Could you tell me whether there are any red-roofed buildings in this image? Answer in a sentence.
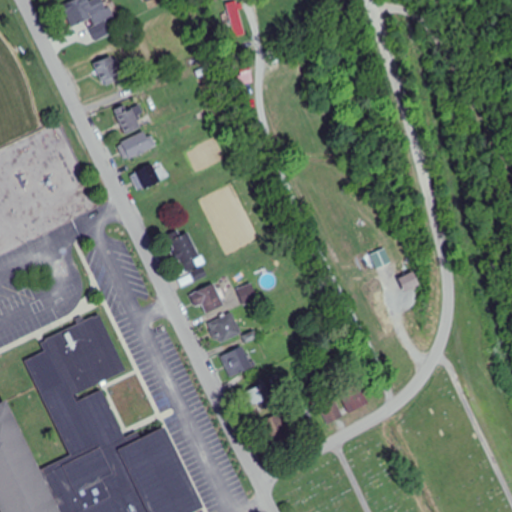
Yes, this view includes a red-roofed building.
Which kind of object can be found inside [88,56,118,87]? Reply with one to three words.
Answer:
house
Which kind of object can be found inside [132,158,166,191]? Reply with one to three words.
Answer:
house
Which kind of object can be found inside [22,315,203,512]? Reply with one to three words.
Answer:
building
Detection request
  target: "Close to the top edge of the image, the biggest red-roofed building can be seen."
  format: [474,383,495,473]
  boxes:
[226,1,244,36]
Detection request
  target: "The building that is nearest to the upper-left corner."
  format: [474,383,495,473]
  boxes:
[64,0,116,44]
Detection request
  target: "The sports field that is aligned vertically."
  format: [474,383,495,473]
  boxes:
[0,31,42,146]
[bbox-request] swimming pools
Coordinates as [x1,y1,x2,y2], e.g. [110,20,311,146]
[259,273,276,290]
